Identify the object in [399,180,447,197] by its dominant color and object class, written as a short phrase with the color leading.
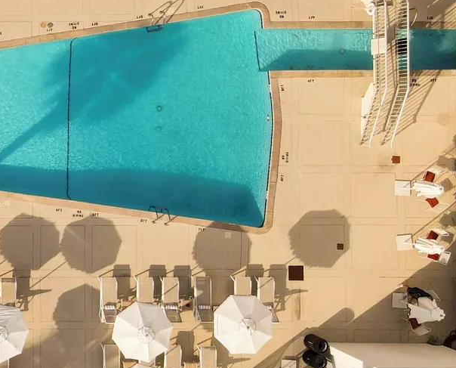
white umbrella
